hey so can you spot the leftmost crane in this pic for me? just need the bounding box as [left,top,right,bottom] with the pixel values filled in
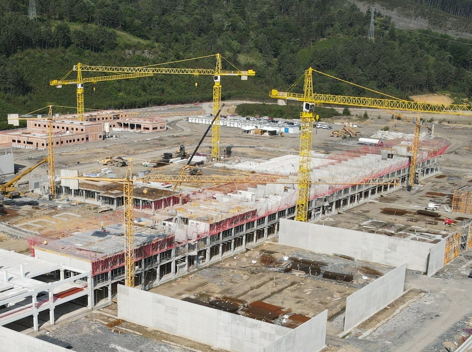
[5,150,64,197]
